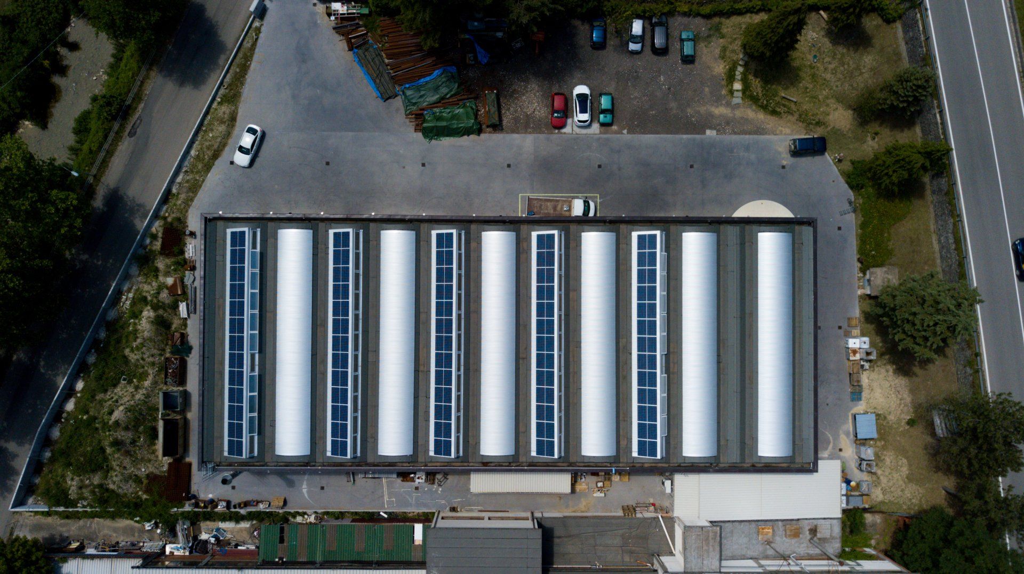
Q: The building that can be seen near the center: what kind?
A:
warehouse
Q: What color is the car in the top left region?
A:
white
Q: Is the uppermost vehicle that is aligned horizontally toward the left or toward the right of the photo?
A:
right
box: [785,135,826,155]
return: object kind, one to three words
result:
vehicle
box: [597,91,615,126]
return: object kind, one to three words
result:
car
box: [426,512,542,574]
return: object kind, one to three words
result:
building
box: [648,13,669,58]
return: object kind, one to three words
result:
car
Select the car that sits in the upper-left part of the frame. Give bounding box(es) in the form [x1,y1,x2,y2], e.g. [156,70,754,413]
[232,122,265,166]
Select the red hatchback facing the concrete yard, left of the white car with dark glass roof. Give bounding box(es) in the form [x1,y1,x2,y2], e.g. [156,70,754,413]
[549,91,568,128]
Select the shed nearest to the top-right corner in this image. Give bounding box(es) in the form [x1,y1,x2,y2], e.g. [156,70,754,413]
[861,266,898,296]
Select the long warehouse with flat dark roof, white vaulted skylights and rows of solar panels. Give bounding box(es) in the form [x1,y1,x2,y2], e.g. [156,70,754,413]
[198,214,818,476]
